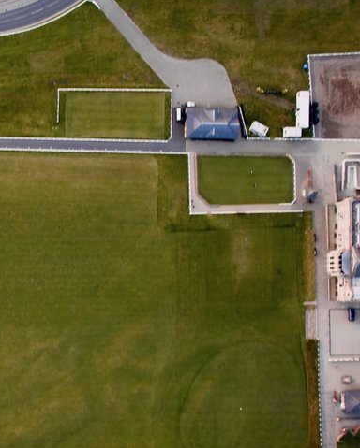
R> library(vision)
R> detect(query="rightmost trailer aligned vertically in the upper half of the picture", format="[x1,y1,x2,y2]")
[290,90,310,131]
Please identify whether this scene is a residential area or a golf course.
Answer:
golf course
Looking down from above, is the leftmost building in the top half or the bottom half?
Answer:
top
